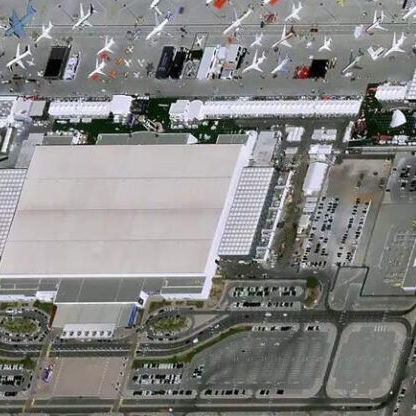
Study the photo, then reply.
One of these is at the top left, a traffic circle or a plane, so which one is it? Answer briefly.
plane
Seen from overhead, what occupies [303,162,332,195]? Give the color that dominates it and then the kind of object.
white tent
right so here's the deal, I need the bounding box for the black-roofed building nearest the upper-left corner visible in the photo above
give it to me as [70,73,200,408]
[45,47,74,83]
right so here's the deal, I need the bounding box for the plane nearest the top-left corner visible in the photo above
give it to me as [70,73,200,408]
[6,2,33,35]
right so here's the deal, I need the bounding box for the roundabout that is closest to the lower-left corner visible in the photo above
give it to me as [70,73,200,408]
[0,309,45,342]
